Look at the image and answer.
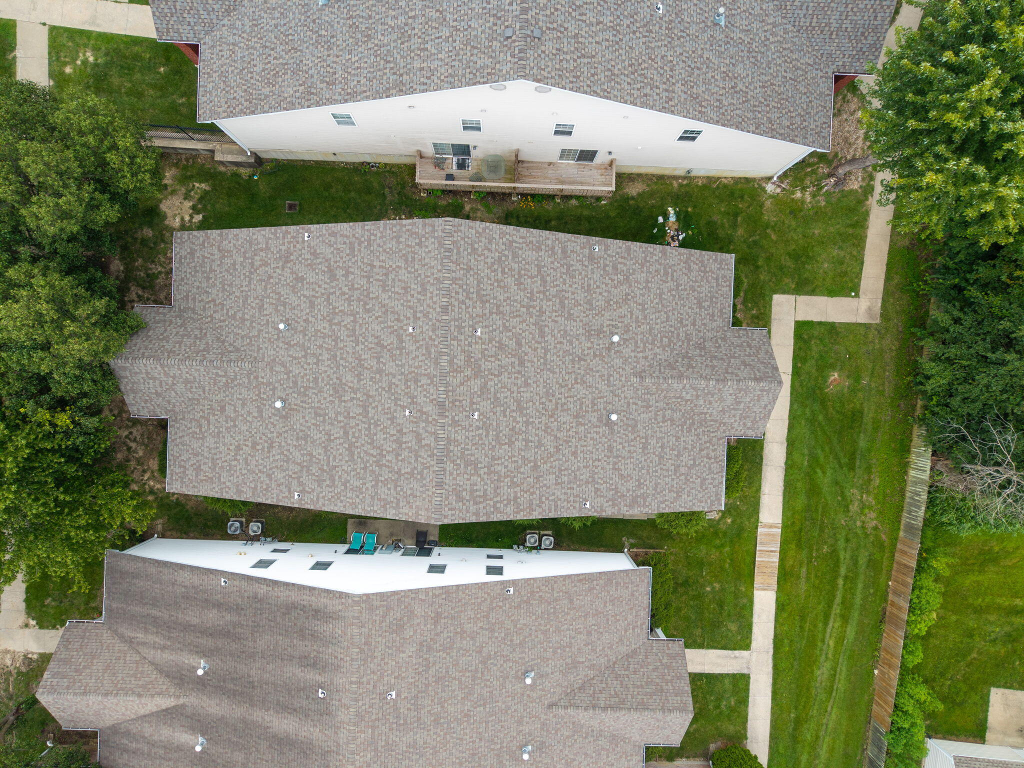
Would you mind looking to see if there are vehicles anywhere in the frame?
No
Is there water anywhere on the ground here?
No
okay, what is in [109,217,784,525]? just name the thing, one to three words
house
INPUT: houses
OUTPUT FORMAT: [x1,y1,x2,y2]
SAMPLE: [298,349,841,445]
[148,0,901,186]
[924,730,1024,768]
[109,217,784,525]
[35,531,693,768]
